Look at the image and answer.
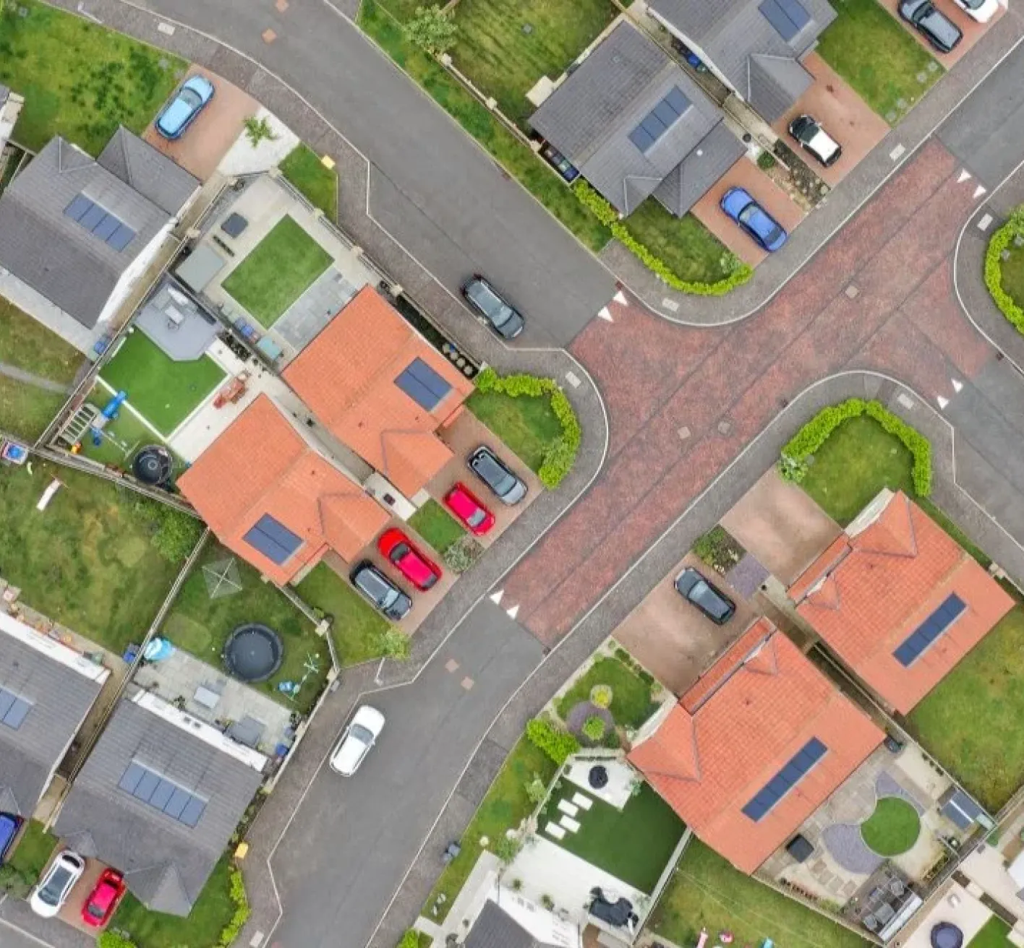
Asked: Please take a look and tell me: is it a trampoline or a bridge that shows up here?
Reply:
trampoline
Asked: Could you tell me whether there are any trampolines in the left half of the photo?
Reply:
Yes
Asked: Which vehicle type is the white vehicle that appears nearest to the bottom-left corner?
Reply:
car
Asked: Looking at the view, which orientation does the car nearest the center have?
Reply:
diagonally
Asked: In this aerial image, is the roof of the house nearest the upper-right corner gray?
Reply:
Yes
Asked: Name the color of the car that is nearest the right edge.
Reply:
white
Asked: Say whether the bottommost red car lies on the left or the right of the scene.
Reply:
left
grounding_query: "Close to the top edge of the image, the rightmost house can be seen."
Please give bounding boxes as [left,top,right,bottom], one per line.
[644,0,840,126]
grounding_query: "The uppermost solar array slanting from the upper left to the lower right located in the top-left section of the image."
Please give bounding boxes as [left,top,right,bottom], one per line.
[60,190,140,251]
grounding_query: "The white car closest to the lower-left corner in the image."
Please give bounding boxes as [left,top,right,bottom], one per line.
[29,847,88,922]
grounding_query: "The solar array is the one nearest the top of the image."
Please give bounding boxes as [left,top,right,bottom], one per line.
[760,0,812,46]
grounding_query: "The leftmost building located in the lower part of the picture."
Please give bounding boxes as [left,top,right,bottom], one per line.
[0,606,120,822]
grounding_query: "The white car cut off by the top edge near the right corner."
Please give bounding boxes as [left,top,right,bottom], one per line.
[955,0,1012,35]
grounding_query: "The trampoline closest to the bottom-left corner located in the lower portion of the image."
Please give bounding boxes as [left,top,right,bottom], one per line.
[222,622,283,683]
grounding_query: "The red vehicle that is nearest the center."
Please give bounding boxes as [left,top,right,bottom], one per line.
[439,478,500,540]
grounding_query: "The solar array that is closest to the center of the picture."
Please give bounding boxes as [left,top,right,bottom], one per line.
[394,356,457,414]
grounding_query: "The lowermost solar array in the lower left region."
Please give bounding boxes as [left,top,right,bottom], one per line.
[117,757,211,828]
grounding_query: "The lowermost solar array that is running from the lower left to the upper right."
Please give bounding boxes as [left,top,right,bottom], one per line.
[742,737,831,823]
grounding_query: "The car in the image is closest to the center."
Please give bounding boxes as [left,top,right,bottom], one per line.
[463,440,531,509]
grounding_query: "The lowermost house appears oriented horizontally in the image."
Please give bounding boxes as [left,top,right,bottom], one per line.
[461,882,615,948]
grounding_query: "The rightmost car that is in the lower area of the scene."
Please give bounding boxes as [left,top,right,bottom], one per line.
[671,563,740,629]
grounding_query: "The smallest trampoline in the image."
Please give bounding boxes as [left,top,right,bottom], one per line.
[121,445,173,486]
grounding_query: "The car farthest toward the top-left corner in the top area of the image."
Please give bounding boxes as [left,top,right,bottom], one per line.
[156,72,213,144]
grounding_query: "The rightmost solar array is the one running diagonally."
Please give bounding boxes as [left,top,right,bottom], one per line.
[893,592,971,669]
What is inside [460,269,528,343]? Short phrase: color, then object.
gray car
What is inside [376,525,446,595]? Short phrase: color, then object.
red car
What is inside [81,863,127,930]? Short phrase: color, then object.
red car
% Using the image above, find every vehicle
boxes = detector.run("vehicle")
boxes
[720,183,789,255]
[331,702,384,779]
[463,440,531,509]
[439,478,500,540]
[671,563,740,629]
[376,525,446,595]
[955,0,1012,35]
[0,817,26,869]
[786,110,847,171]
[156,72,213,144]
[81,863,127,930]
[894,0,964,59]
[29,847,88,922]
[345,557,416,624]
[460,269,528,343]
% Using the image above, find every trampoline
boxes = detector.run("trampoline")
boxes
[121,445,173,486]
[222,622,283,683]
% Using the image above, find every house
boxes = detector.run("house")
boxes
[784,491,1016,715]
[461,882,615,948]
[176,391,394,588]
[52,693,270,917]
[0,82,27,143]
[280,284,477,498]
[644,0,840,126]
[529,18,748,219]
[0,606,120,822]
[628,611,888,876]
[0,125,209,330]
